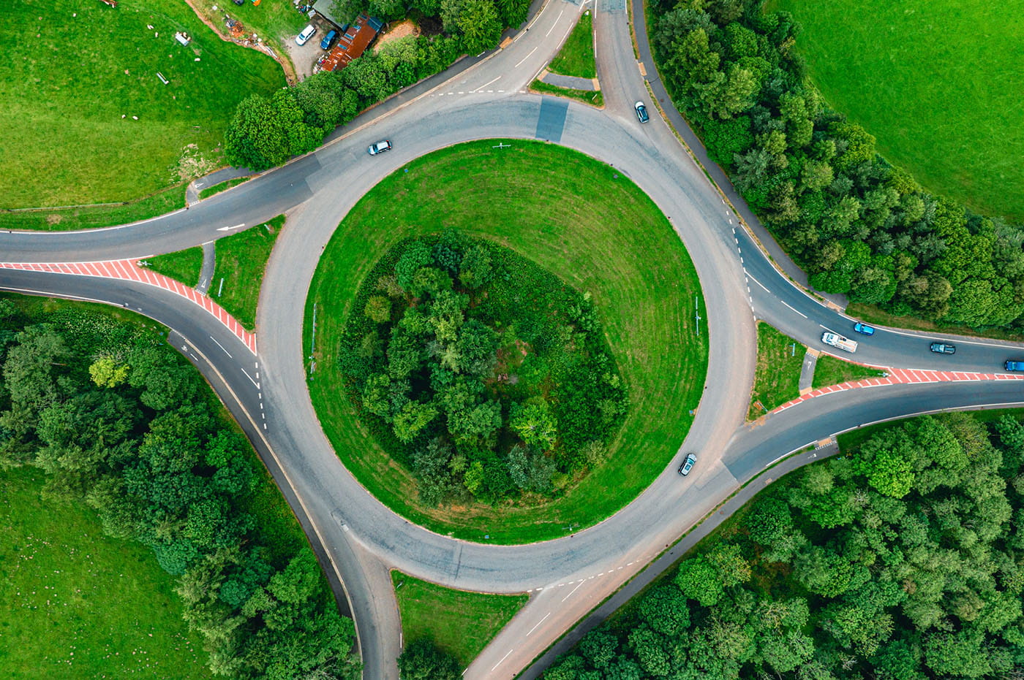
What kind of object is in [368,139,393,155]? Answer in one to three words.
car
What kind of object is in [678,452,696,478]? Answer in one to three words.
car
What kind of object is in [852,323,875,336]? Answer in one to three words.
vehicle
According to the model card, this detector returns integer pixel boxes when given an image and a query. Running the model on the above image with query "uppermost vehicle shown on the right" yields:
[634,101,649,124]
